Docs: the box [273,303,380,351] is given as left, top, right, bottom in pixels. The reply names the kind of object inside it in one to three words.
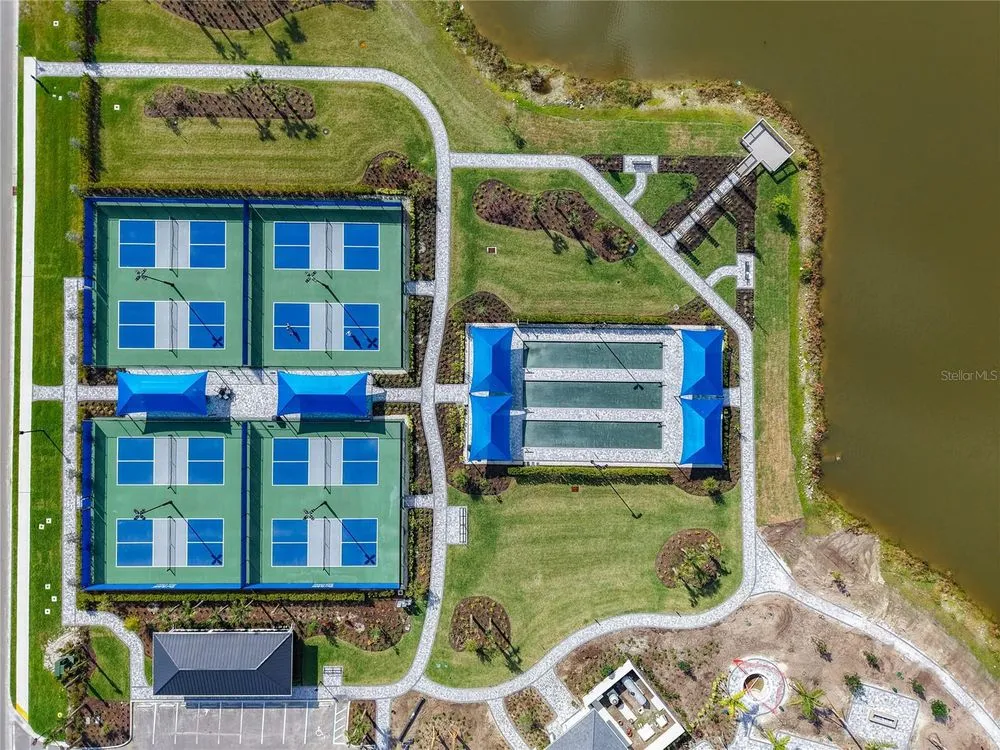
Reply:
sports court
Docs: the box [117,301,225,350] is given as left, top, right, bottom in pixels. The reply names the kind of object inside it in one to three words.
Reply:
sports court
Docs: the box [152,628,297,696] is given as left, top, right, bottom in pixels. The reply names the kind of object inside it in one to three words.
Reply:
building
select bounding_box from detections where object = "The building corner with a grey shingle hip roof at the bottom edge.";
[541,705,631,750]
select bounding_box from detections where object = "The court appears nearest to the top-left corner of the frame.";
[118,219,226,269]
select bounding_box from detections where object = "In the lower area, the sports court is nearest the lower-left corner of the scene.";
[116,519,224,567]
